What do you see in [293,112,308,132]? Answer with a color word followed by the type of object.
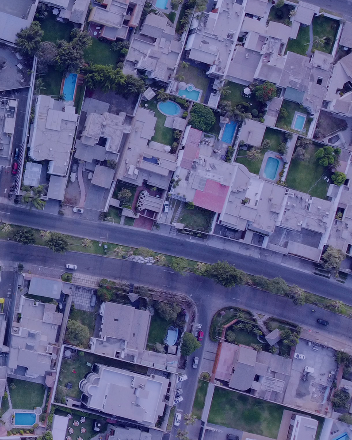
blue swimming pool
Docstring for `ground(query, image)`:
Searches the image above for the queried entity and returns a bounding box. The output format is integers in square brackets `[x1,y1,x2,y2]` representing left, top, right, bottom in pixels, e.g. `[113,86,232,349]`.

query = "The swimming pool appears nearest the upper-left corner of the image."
[64,71,79,102]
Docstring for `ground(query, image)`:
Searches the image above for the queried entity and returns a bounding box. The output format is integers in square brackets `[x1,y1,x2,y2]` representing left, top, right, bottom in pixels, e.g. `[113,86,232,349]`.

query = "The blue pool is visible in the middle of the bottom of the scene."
[163,325,179,347]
